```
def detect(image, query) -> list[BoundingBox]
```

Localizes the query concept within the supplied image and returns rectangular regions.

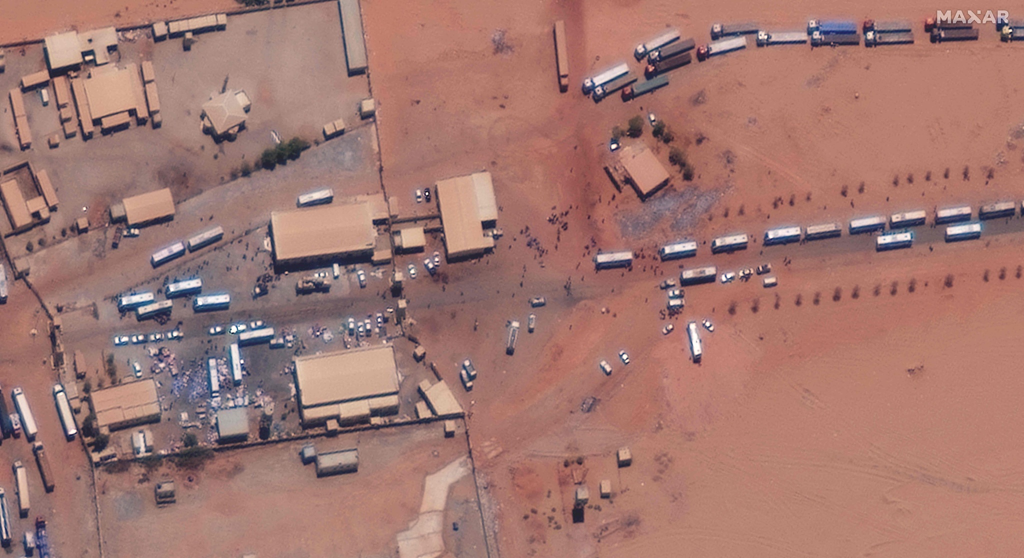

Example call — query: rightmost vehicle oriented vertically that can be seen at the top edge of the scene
[555,21,569,87]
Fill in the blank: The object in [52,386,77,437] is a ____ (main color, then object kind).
white truck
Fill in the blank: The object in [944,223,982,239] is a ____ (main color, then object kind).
white vehicle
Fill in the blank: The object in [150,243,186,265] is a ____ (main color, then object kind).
white bus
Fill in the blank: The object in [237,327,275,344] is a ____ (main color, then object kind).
white vehicle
